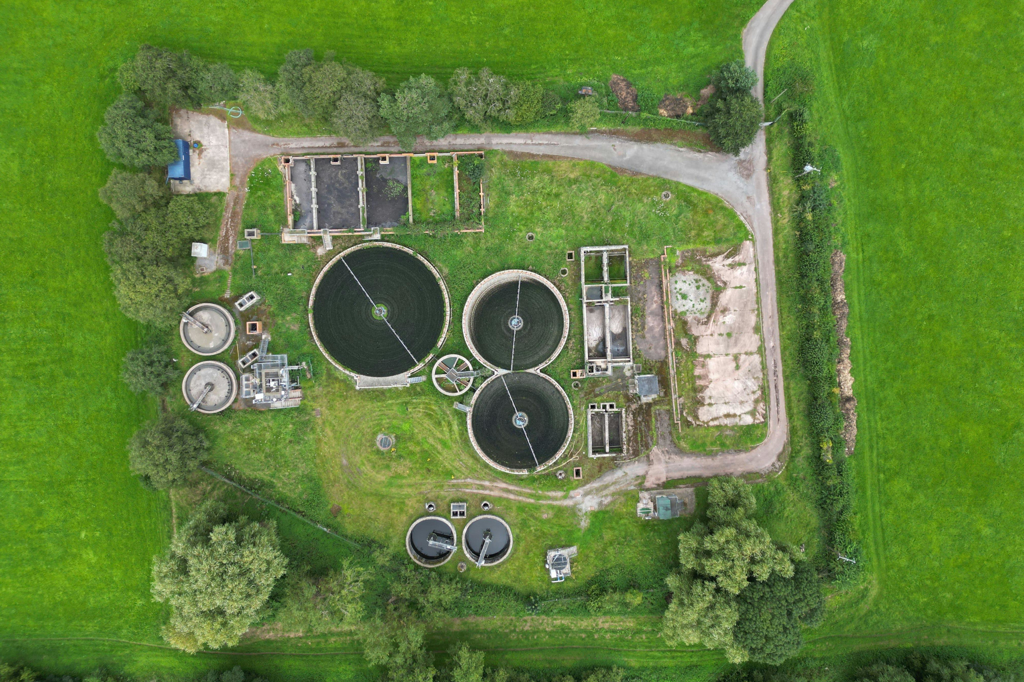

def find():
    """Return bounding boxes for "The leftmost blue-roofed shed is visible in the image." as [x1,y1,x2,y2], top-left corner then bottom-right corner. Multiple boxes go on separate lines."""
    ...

[166,139,193,184]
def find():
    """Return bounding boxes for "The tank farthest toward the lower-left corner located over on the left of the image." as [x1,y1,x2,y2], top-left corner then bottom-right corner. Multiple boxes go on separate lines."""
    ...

[184,361,238,413]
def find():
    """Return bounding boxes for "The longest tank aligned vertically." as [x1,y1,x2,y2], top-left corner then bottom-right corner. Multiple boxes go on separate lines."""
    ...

[579,245,634,377]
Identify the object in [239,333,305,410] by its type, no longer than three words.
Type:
building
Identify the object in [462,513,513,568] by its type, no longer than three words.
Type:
storage tank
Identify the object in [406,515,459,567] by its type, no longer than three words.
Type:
storage tank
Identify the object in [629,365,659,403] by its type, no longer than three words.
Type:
building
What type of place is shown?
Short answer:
industrial area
